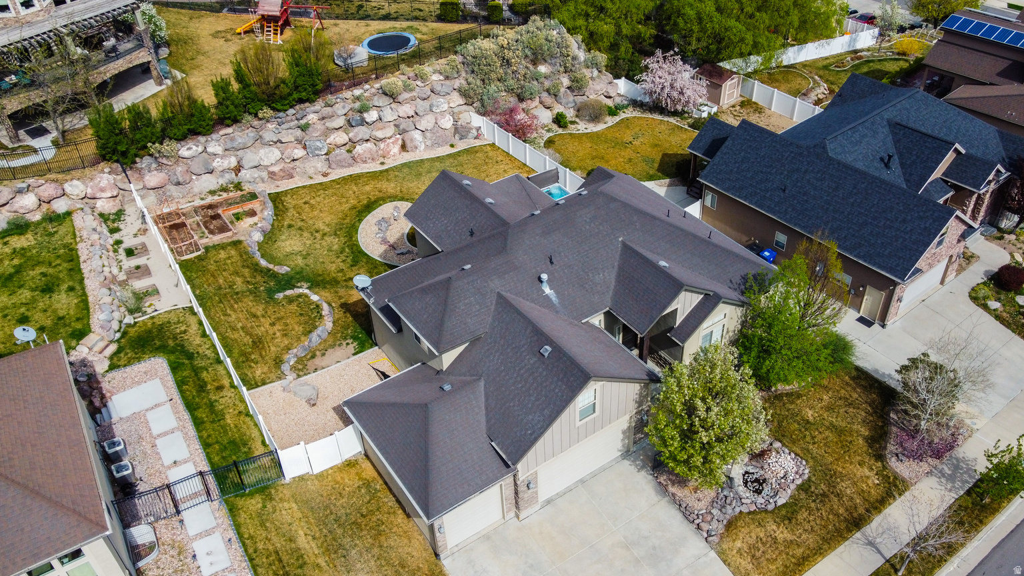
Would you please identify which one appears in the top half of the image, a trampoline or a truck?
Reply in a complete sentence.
Visible in the top half of the image is a trampoline.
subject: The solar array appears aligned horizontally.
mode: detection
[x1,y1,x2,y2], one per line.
[941,13,1024,45]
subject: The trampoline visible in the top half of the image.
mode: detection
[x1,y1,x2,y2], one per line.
[360,30,420,65]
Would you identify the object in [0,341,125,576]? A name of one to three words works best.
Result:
house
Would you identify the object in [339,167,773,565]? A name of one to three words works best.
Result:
house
